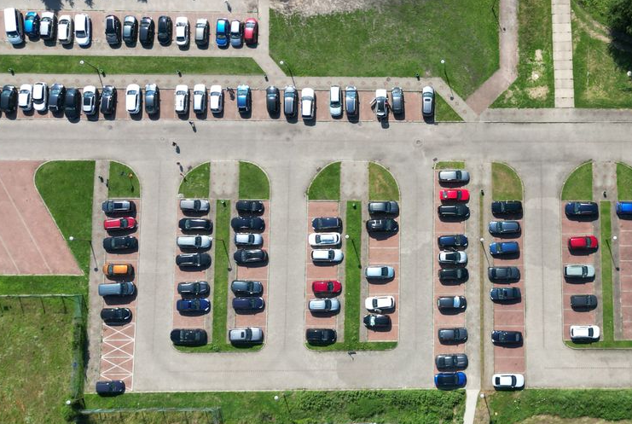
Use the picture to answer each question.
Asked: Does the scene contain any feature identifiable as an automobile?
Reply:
Yes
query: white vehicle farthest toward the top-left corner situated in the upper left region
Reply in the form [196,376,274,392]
[2,6,24,45]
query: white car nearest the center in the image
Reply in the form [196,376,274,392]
[309,232,341,247]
